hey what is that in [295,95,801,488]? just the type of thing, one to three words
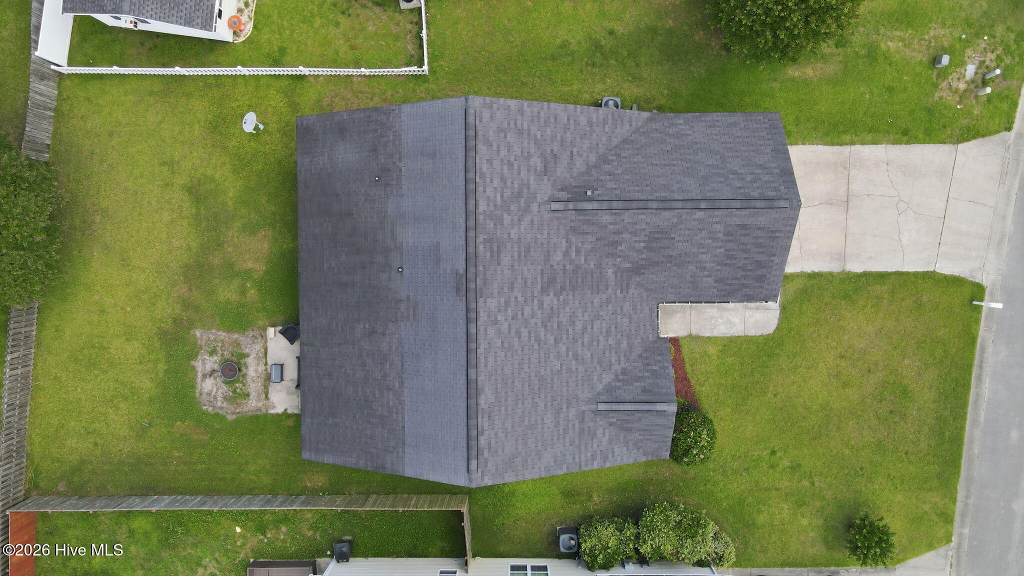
house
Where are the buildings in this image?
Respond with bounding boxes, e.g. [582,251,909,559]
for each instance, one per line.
[295,95,801,488]
[63,0,237,42]
[310,549,715,576]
